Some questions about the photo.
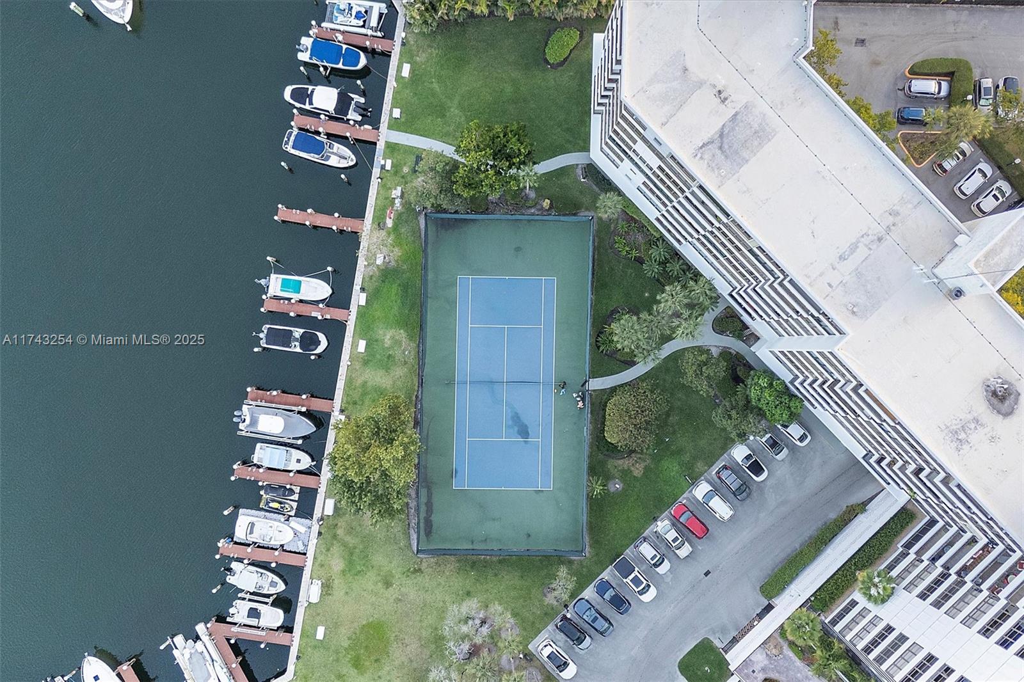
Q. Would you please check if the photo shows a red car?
Yes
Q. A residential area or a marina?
marina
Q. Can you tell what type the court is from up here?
tennis court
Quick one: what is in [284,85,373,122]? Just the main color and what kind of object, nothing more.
white boat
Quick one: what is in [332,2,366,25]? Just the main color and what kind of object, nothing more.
white boat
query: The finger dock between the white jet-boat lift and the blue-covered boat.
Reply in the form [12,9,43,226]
[315,27,394,51]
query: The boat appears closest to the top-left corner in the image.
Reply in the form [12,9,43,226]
[92,0,130,29]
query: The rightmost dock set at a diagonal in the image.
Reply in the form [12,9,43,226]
[207,629,251,682]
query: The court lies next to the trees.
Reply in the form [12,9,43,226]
[421,220,589,547]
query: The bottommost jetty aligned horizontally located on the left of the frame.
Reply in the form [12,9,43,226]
[210,621,293,645]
